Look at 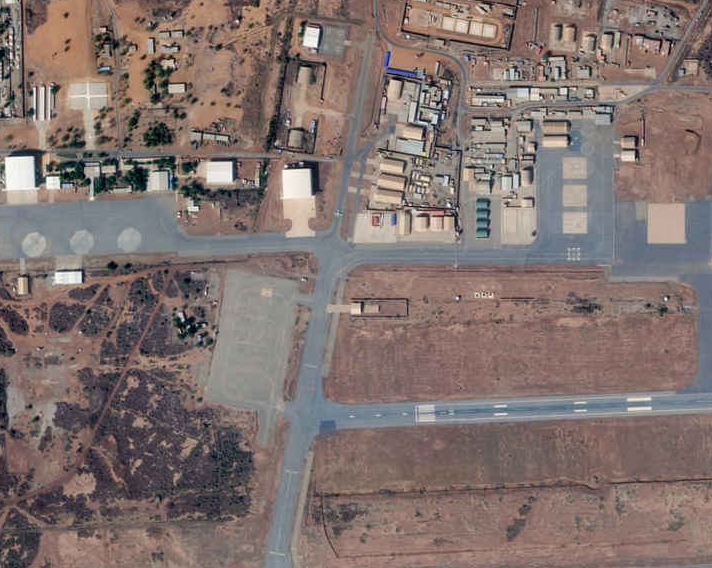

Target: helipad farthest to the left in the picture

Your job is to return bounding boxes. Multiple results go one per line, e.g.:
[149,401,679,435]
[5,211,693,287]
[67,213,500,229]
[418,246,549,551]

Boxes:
[22,232,46,257]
